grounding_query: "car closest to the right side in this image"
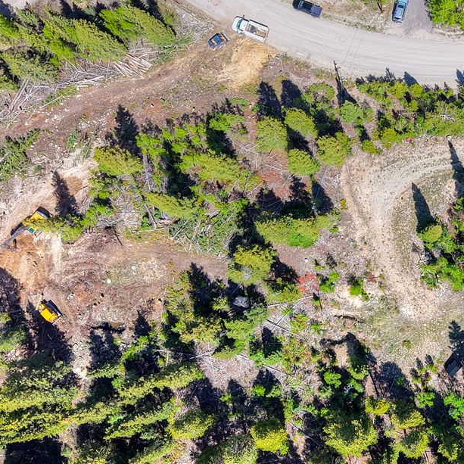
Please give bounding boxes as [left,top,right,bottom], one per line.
[392,0,408,26]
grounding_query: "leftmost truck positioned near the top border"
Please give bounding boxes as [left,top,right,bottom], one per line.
[230,18,272,44]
